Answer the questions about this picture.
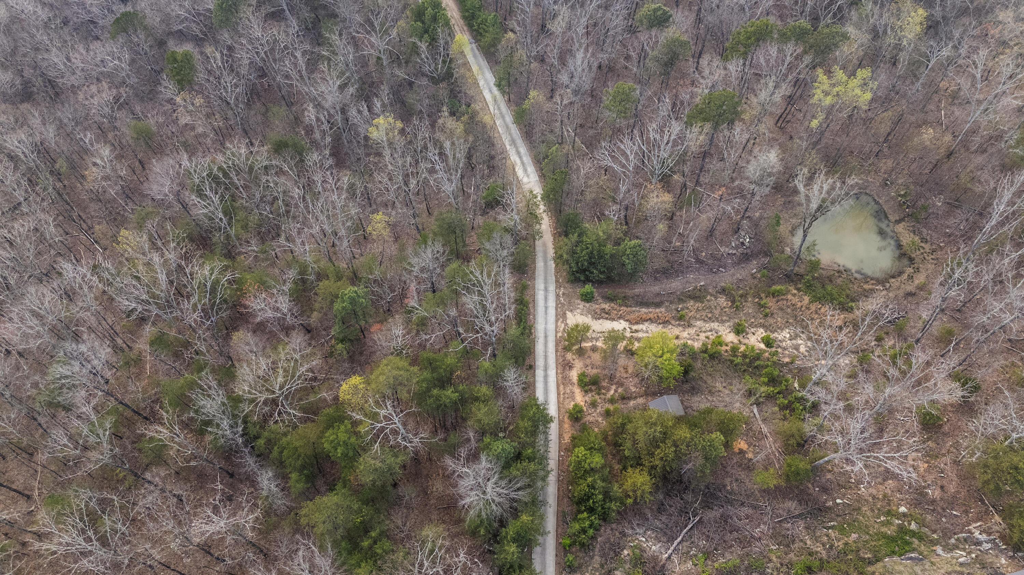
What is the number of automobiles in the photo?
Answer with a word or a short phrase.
0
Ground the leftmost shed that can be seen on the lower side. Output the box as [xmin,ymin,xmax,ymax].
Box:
[647,394,683,424]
